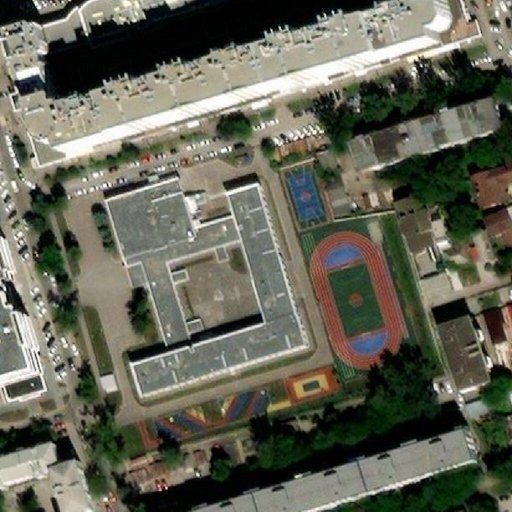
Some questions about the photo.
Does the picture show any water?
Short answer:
No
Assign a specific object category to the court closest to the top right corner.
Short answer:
basketball court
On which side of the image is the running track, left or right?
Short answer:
right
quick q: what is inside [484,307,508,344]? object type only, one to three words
house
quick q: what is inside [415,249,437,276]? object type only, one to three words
shed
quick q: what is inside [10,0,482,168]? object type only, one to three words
building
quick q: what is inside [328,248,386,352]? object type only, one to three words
soccer field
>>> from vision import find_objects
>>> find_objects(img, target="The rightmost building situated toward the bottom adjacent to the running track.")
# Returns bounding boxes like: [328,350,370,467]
[438,316,490,392]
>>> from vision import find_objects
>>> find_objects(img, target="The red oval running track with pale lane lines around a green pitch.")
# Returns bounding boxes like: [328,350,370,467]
[311,230,403,370]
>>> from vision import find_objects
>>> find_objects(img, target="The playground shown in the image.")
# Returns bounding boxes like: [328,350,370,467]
[138,390,291,448]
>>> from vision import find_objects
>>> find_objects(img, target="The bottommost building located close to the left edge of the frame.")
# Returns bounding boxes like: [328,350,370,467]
[0,444,97,512]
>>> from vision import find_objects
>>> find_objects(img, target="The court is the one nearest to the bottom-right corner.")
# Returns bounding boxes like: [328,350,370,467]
[286,368,342,403]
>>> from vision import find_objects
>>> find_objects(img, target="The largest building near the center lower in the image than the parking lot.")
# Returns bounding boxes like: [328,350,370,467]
[106,174,308,398]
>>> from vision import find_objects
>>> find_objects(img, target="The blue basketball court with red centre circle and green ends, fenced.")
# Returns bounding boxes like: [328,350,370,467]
[281,159,331,231]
